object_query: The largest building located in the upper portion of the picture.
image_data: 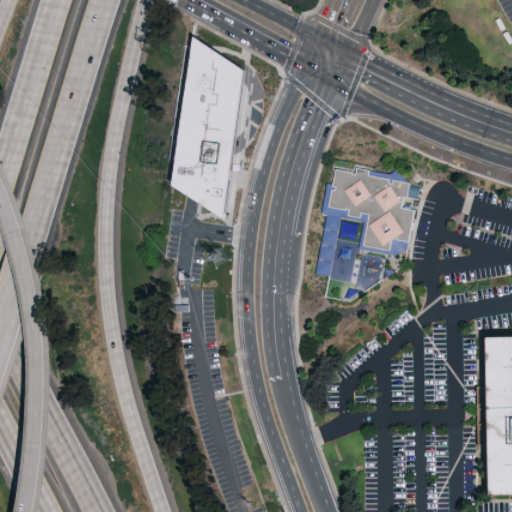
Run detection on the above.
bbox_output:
[170,34,244,218]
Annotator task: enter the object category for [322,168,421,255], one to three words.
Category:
building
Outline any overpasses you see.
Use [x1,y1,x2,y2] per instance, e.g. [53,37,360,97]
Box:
[0,172,48,512]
